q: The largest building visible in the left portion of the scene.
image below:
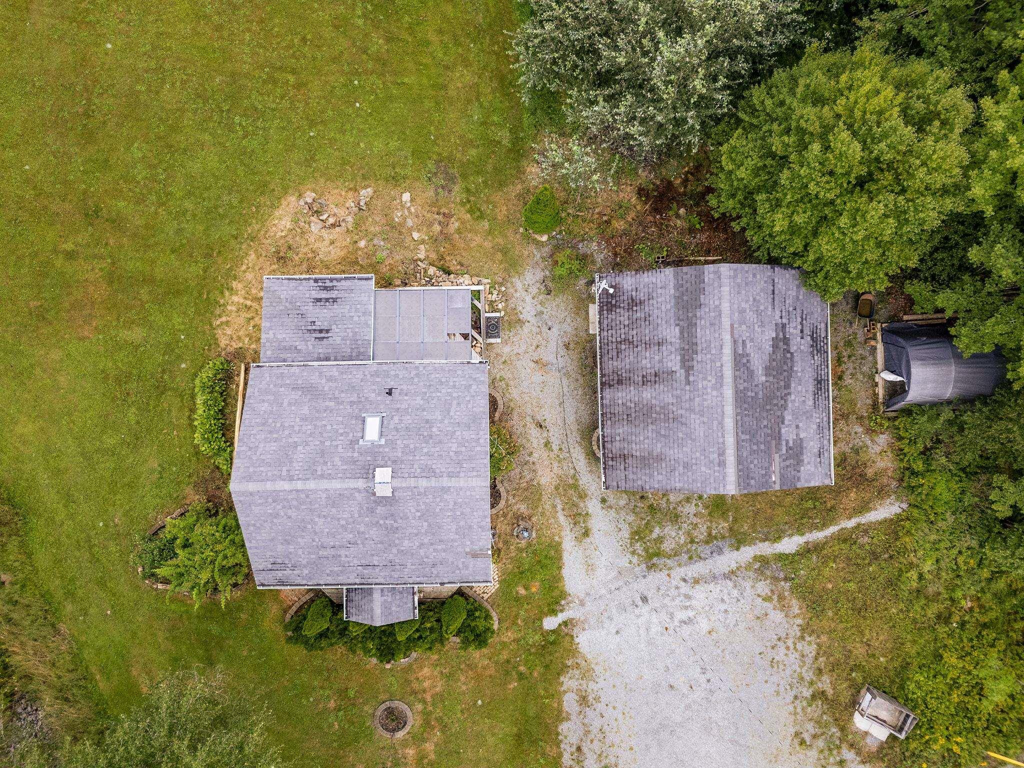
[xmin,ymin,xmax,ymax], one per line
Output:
[230,271,498,626]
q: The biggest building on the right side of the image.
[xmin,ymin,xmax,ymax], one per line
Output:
[594,263,837,494]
